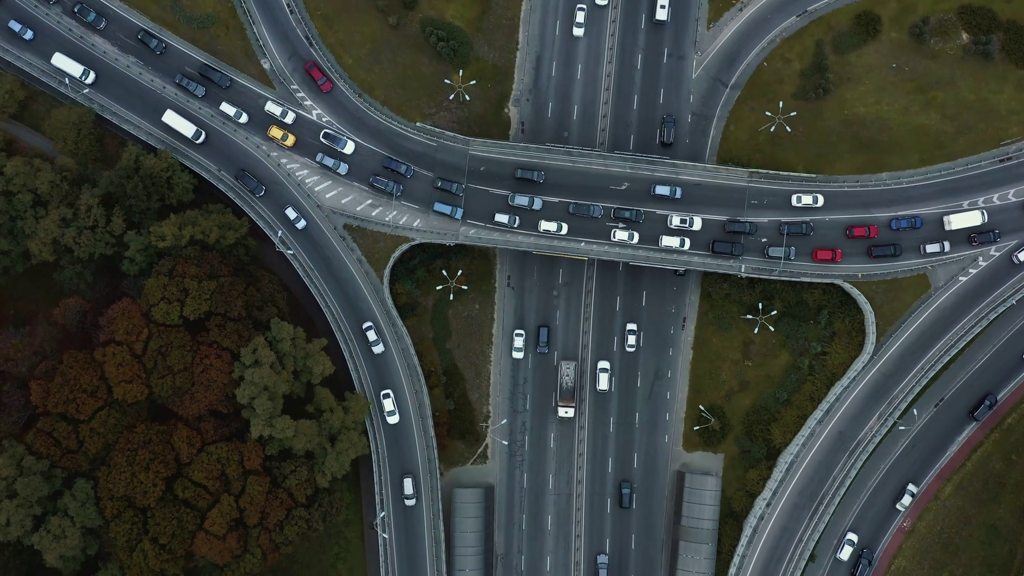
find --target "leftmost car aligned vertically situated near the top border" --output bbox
[572,5,586,37]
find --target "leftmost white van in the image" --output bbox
[49,51,99,86]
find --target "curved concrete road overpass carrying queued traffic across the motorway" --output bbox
[460,136,749,278]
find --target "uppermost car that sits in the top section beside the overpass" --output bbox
[660,114,676,146]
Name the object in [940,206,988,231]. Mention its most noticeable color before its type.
white truck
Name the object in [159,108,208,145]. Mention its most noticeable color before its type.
white van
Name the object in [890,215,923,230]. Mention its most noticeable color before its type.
blue car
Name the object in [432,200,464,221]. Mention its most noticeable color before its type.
blue car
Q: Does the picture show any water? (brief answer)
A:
No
